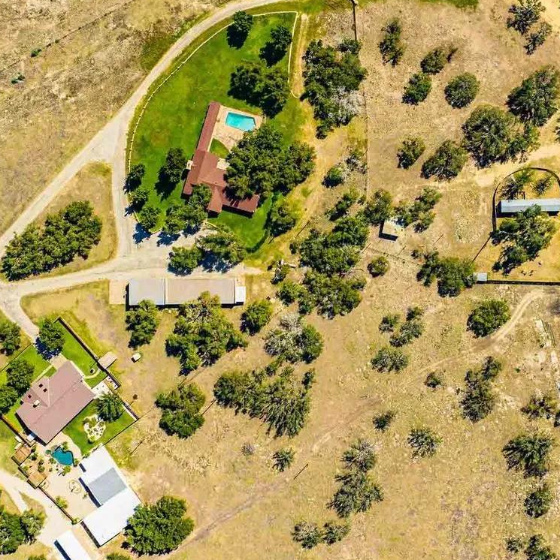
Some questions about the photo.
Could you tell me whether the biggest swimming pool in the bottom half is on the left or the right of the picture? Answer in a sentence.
The biggest swimming pool in the bottom half is on the left side of the image.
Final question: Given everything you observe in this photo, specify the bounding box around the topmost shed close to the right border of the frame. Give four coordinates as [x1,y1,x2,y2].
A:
[501,200,560,213]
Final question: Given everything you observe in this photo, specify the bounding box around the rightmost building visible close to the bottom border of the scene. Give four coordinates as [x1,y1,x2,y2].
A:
[80,443,145,547]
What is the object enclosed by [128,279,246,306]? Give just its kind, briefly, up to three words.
house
